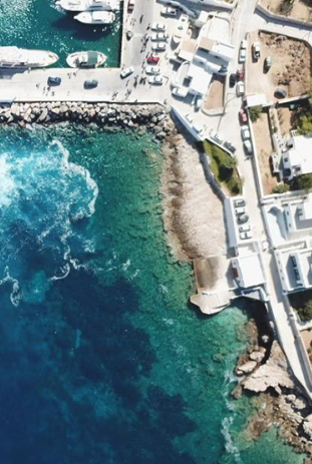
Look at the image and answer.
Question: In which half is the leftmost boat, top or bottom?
top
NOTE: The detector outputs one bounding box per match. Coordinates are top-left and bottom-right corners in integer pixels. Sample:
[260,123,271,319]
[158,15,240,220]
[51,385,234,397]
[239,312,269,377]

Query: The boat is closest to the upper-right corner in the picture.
[174,14,189,42]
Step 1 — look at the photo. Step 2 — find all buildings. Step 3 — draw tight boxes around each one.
[265,195,312,241]
[243,93,270,108]
[280,131,312,177]
[184,58,222,98]
[271,240,312,292]
[203,0,237,9]
[194,18,235,65]
[227,244,269,301]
